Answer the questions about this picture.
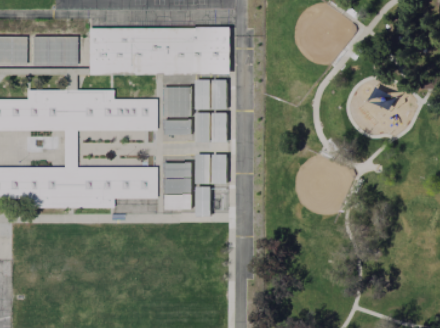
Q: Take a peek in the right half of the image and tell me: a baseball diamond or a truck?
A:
baseball diamond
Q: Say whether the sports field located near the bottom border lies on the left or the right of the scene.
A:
left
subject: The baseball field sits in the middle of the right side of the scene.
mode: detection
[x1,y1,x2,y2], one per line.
[295,154,358,216]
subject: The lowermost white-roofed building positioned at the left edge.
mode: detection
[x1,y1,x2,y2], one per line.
[0,90,158,209]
